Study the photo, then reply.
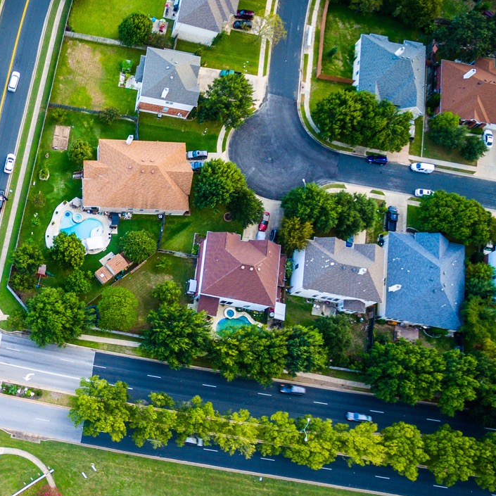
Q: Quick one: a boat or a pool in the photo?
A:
pool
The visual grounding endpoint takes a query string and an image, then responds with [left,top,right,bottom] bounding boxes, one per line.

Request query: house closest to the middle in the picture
[194,231,286,317]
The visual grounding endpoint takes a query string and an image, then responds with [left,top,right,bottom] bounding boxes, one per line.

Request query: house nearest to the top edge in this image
[174,0,239,45]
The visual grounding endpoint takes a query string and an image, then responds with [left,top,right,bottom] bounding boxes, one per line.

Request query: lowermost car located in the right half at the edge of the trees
[345,410,371,422]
